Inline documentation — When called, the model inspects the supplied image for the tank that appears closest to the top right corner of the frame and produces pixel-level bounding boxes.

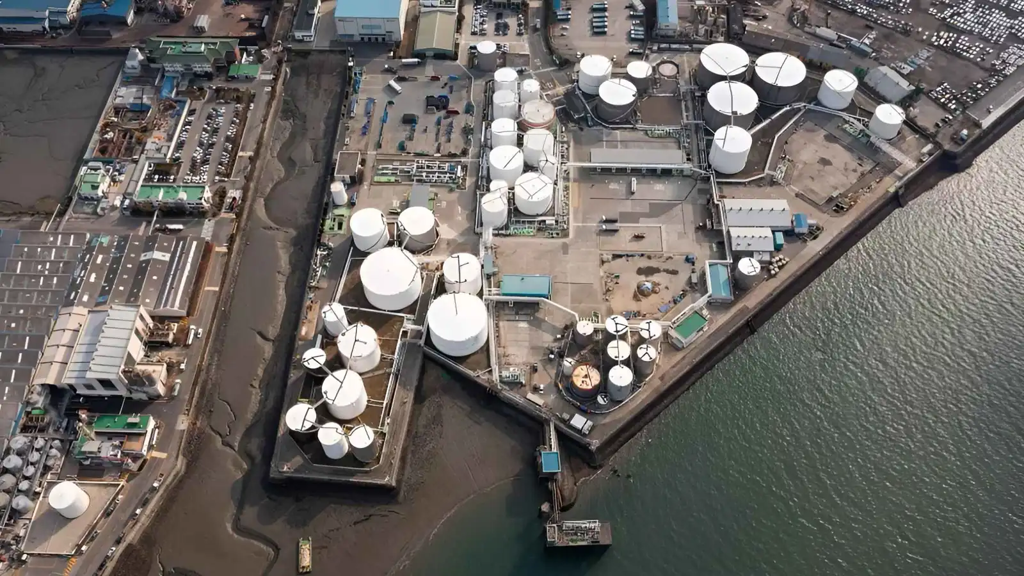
[867,103,907,141]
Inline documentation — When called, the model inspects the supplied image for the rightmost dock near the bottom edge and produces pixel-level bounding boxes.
[536,417,612,551]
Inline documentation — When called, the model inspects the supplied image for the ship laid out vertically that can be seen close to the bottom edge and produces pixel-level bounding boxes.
[298,532,312,573]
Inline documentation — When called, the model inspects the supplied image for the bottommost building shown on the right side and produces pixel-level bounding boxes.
[668,305,711,351]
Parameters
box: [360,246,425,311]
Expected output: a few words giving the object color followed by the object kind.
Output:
white storage tank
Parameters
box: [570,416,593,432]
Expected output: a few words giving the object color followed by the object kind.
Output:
white vehicle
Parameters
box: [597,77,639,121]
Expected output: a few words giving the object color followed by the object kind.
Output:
white storage tank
